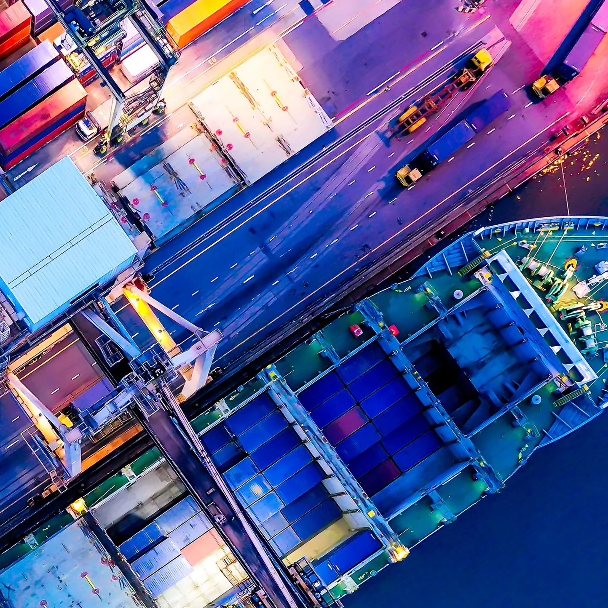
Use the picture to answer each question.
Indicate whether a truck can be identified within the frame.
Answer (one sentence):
Yes, a truck can be made out from above.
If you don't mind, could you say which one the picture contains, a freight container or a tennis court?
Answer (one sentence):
The one in the frame is a freight container.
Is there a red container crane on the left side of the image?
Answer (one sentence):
No, I can find no red container crane on the left side of the image.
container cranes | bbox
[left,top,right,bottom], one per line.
[37,0,184,156]
[0,155,349,608]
